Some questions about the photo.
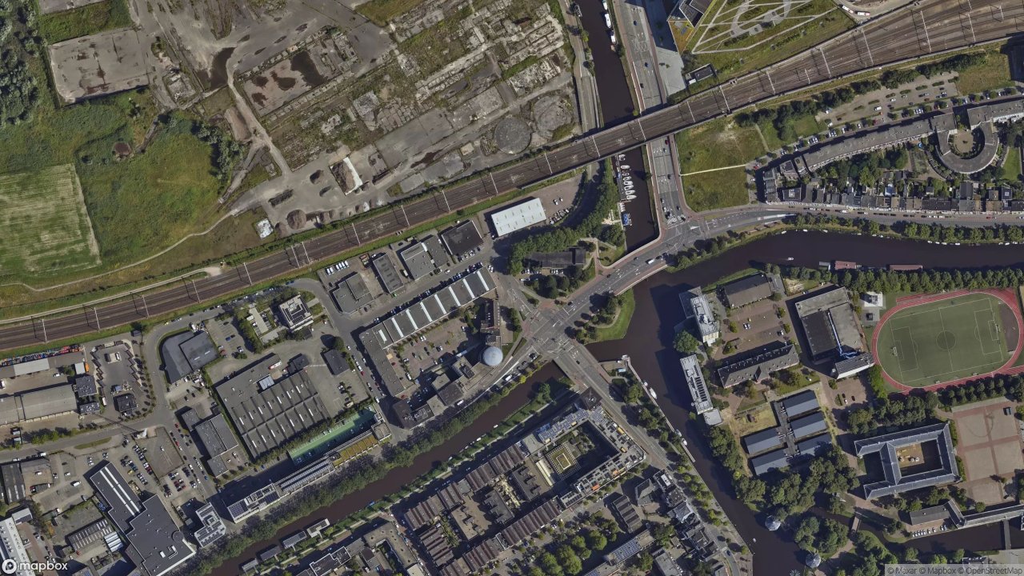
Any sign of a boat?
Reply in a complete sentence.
Yes, the picture does show a boat.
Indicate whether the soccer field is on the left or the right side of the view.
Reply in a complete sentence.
The soccer field is on the right side of the image.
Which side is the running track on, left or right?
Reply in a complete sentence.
The running track is on the right side of the image.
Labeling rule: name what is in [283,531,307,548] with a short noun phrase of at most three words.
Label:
boat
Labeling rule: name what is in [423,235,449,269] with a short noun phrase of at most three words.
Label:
building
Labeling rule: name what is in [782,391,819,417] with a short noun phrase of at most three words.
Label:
shed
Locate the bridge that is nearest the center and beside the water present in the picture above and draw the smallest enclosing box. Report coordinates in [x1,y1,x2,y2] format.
[546,342,608,401]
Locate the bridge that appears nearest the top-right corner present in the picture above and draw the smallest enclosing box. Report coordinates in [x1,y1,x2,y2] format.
[606,210,672,296]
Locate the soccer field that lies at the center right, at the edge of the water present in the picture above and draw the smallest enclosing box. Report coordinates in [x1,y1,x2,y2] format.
[864,281,1024,397]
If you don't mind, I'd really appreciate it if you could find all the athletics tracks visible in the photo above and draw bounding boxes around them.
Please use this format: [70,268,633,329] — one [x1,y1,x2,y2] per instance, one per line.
[872,288,1024,391]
